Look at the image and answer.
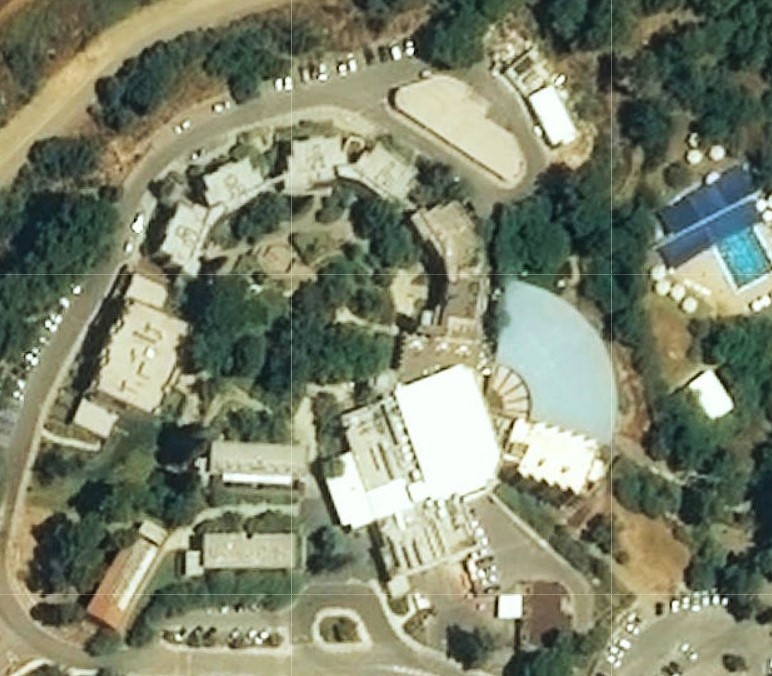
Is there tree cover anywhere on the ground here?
Yes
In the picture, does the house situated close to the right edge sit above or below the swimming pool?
below it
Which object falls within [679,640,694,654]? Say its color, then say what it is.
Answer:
white car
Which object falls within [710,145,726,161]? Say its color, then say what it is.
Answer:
white umbrella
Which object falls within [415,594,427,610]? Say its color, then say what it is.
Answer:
white vehicle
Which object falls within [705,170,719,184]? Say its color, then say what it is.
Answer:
white umbrella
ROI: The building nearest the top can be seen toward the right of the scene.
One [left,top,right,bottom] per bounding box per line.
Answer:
[496,47,549,96]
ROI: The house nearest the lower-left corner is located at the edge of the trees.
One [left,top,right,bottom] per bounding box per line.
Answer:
[89,541,161,633]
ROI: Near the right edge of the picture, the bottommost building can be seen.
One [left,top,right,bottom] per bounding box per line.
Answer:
[688,369,734,419]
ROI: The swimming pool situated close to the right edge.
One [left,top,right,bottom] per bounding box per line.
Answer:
[675,205,772,317]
